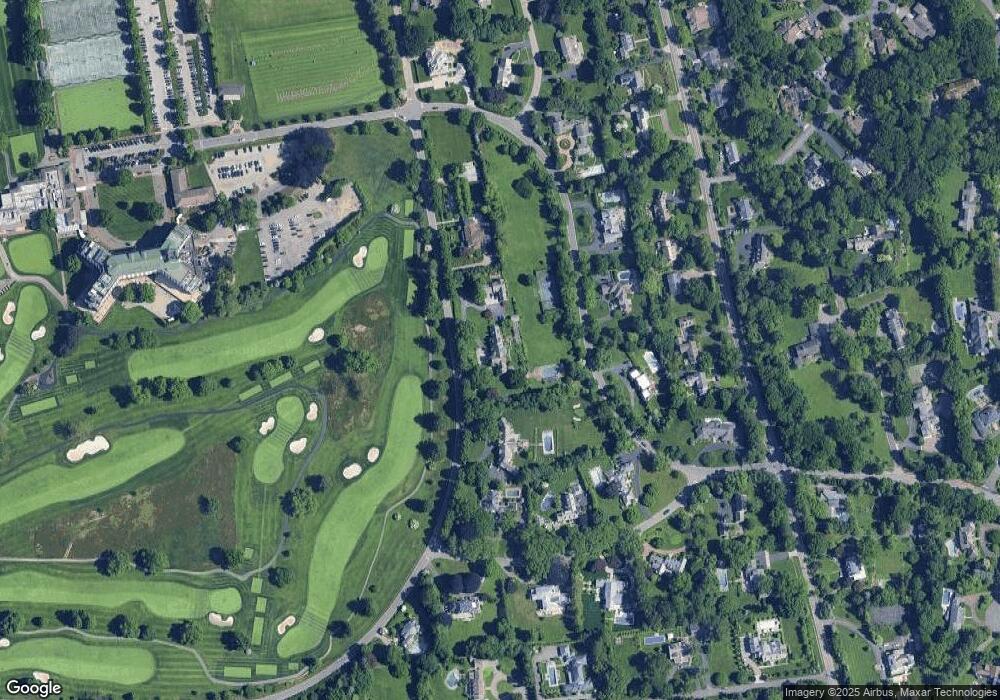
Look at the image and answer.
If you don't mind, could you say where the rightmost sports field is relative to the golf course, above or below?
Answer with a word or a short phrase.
above it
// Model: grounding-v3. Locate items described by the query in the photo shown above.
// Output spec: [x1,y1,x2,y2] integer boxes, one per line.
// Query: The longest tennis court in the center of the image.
[539,270,555,308]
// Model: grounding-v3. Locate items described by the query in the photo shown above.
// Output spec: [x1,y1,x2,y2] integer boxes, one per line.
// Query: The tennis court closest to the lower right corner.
[870,604,904,624]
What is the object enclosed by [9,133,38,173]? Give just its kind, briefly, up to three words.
sports field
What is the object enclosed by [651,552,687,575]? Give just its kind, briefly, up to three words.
house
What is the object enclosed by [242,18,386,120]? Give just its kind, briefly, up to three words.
sports field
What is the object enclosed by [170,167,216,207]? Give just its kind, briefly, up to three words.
building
